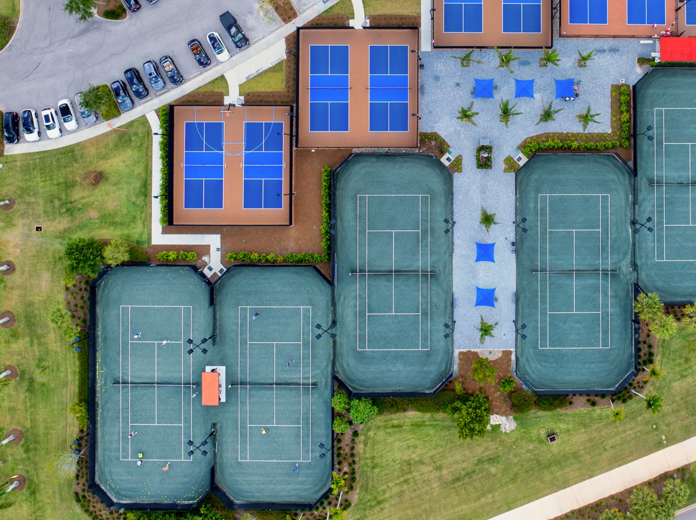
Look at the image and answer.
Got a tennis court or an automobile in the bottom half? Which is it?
tennis court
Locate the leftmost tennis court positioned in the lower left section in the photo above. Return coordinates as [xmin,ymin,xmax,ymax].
[96,266,214,502]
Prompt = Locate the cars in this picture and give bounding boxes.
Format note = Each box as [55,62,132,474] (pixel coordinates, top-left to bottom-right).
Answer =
[123,0,142,14]
[186,37,214,69]
[142,58,167,92]
[158,53,185,86]
[108,77,136,112]
[56,98,82,132]
[39,106,64,139]
[1,111,22,145]
[121,65,150,101]
[72,91,100,126]
[17,108,44,143]
[206,31,231,62]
